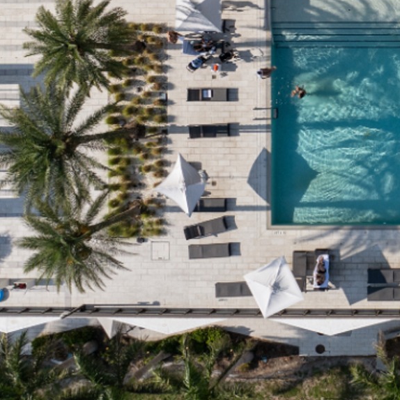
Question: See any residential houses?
No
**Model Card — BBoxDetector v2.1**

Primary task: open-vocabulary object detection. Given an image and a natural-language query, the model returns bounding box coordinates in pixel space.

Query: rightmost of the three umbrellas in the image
[243,257,303,318]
